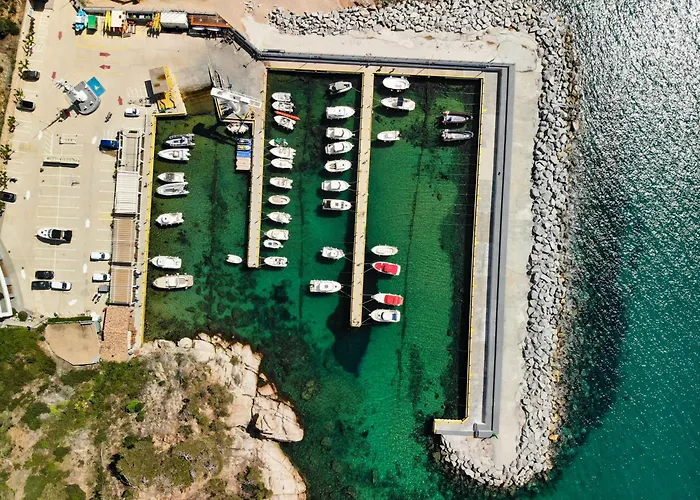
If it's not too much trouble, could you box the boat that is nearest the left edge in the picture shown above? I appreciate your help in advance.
[36,231,75,243]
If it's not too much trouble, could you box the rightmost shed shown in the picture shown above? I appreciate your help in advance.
[190,14,230,32]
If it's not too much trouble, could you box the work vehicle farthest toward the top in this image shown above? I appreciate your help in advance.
[75,10,89,29]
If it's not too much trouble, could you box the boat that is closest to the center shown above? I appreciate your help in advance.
[319,245,355,261]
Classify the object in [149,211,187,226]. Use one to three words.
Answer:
boat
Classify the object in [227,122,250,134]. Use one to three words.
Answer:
boat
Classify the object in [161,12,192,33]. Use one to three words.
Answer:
shed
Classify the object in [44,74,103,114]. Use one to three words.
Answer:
building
